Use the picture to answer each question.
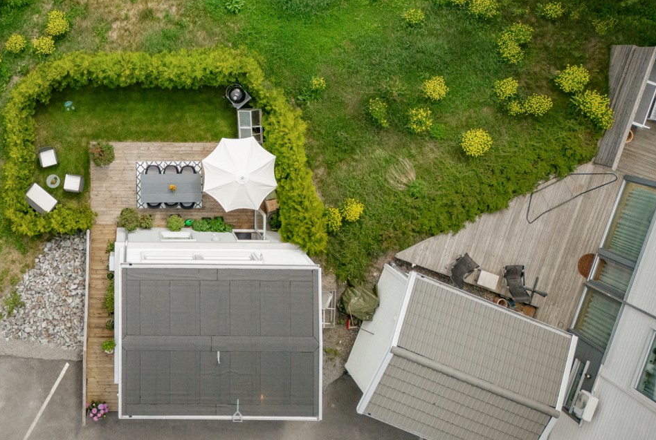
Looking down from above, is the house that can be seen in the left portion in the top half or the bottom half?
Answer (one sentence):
Seen from above, the house that can be seen in the left portion lies in the bottom half of the view.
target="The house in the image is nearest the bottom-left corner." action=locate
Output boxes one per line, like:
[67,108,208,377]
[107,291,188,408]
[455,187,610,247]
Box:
[114,208,325,425]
